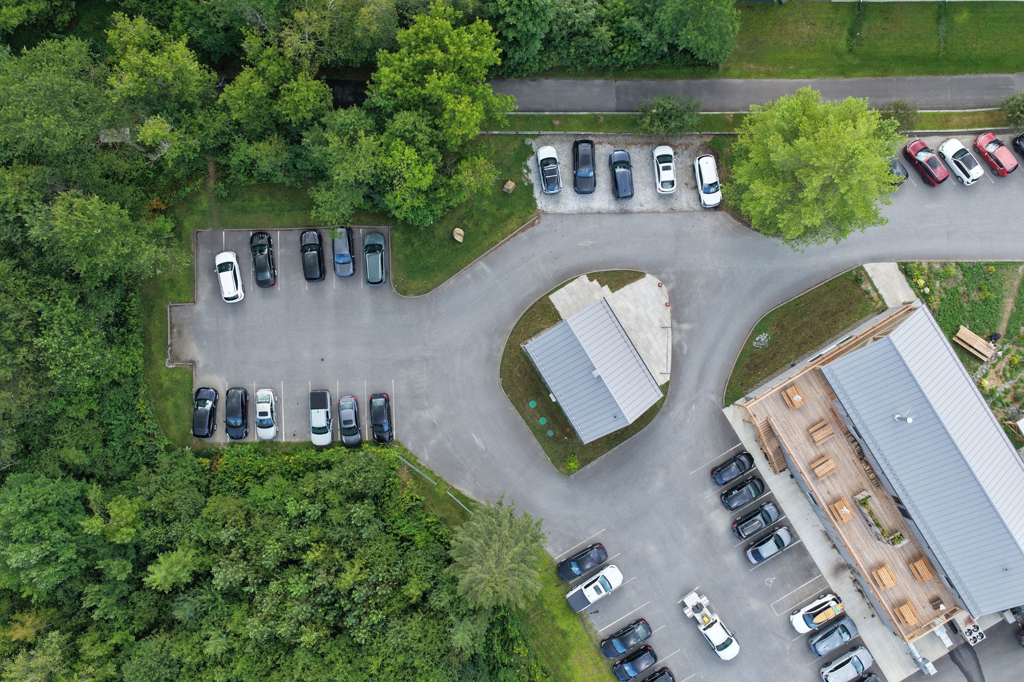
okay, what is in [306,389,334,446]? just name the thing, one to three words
vehicle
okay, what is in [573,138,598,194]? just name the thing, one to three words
car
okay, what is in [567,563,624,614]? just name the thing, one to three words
vehicle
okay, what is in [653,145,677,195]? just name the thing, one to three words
car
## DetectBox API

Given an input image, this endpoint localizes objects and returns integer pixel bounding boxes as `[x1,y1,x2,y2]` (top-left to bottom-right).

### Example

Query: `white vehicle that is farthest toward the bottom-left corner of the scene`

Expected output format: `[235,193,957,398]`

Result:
[252,388,278,439]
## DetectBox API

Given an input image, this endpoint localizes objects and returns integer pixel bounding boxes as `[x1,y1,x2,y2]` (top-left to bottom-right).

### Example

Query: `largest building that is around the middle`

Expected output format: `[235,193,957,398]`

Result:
[523,296,665,446]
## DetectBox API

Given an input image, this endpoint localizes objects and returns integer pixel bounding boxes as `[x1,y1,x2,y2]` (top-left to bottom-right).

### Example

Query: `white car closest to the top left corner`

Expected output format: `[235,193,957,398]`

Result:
[214,251,246,304]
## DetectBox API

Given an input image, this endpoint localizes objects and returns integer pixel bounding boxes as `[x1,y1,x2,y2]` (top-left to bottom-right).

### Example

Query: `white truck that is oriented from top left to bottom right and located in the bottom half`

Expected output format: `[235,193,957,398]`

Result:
[681,589,742,662]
